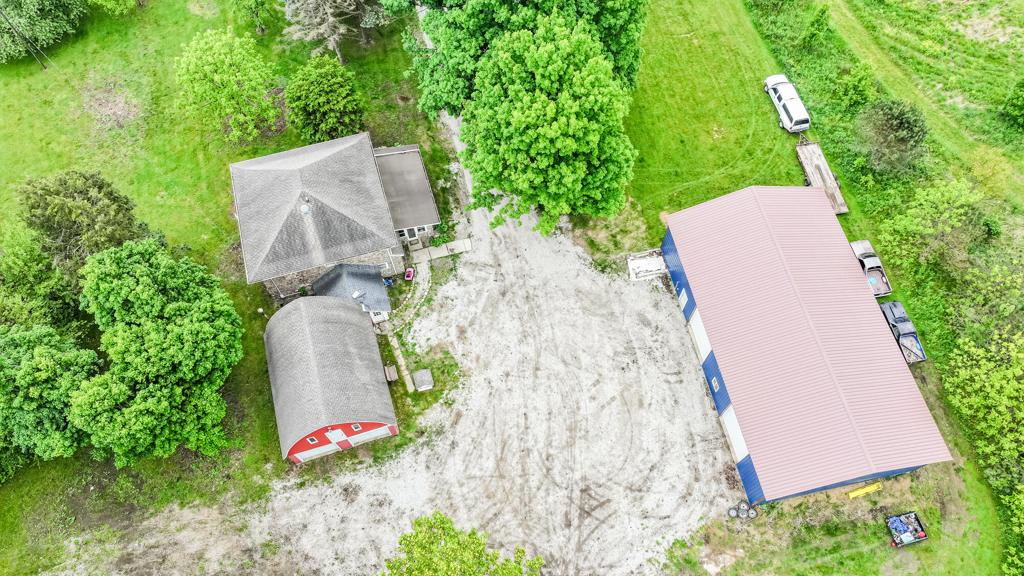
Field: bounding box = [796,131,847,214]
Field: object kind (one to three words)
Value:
trailer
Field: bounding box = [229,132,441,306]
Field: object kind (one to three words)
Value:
house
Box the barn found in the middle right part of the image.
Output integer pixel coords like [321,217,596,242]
[661,186,952,505]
